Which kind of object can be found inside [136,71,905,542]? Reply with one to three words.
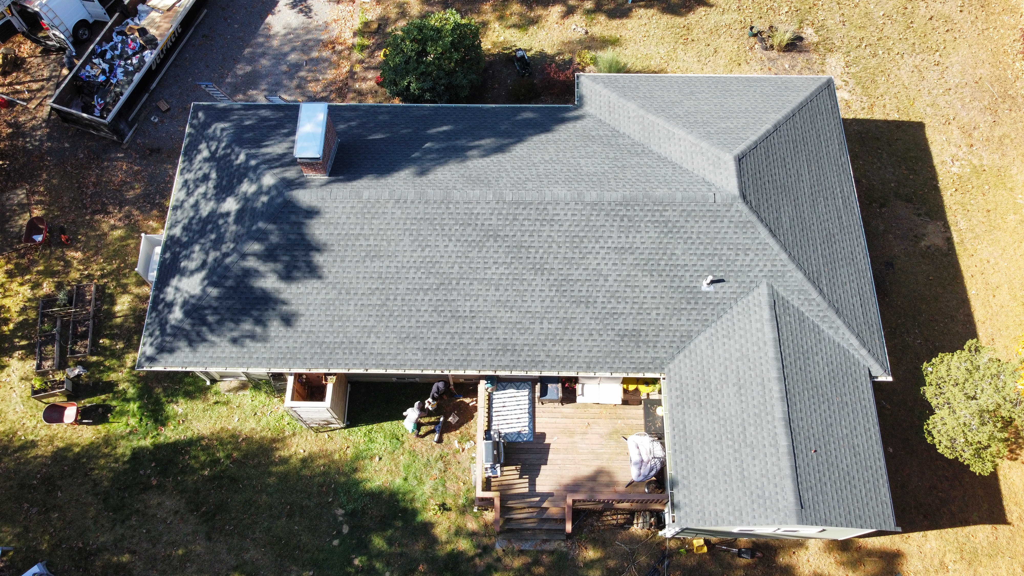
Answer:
house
